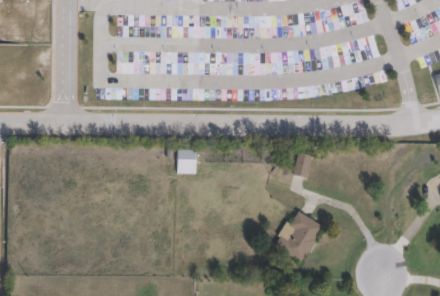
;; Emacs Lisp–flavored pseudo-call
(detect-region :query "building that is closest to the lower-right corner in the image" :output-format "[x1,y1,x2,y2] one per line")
[277,212,320,259]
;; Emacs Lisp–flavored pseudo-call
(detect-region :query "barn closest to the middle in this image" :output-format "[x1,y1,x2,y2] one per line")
[176,150,198,175]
